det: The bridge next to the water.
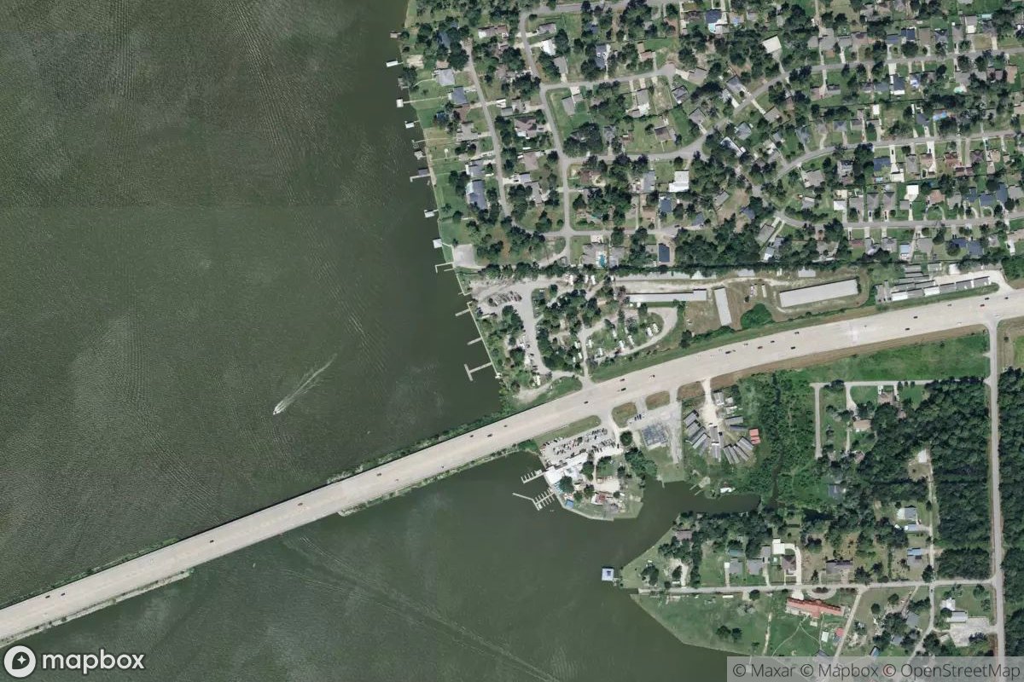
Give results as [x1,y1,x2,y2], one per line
[0,420,510,639]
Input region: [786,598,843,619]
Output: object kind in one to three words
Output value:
building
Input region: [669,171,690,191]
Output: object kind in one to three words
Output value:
house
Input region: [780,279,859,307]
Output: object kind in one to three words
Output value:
building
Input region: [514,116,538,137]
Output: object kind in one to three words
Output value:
house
